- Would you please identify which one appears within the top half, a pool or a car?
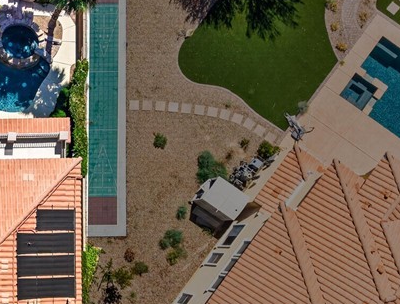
pool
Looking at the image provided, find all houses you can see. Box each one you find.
[174,144,400,304]
[0,116,84,304]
